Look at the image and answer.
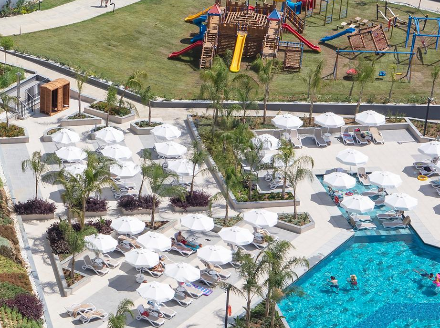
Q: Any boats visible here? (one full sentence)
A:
No, this view has no boat in it.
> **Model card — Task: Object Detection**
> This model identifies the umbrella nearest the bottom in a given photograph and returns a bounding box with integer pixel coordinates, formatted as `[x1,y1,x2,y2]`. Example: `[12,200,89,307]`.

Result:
[135,282,173,303]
